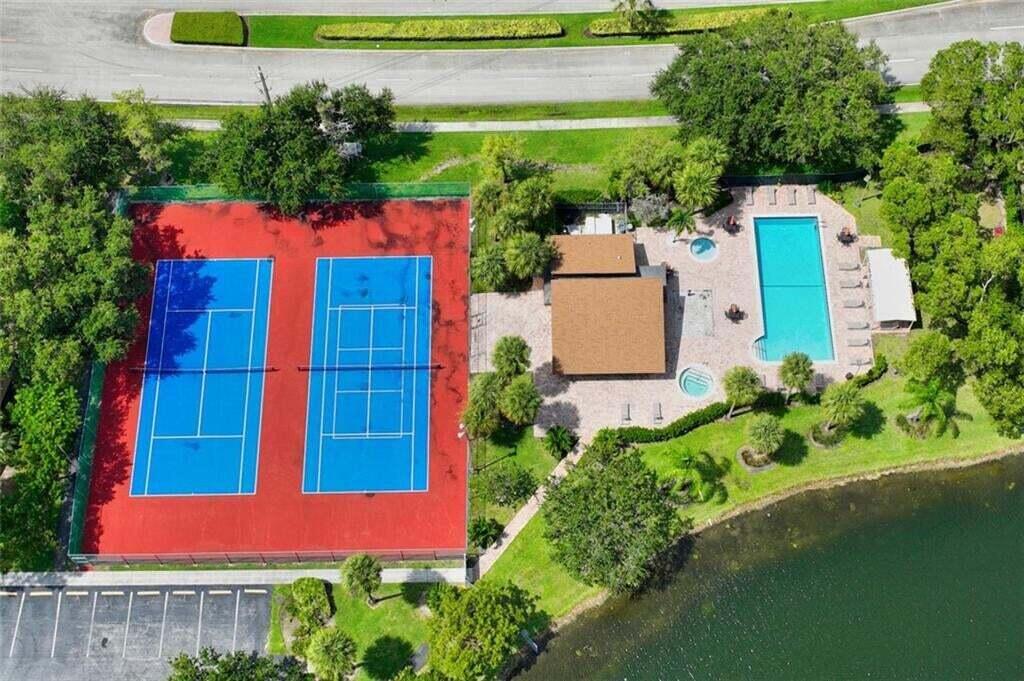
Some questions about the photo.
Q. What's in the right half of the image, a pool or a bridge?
pool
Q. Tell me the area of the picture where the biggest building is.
center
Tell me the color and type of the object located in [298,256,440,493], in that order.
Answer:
blue tennis court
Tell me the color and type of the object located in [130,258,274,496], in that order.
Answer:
blue tennis court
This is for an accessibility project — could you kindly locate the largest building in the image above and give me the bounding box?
[541,234,666,380]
